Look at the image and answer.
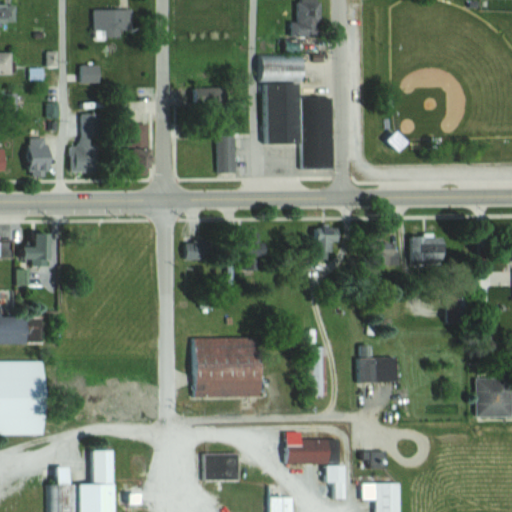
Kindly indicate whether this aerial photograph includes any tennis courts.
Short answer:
No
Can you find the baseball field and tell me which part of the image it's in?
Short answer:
top right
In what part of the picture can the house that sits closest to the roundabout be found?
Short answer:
bottom right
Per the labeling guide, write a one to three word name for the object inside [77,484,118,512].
building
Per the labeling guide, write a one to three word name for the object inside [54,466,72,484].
house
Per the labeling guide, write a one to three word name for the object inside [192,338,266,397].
barn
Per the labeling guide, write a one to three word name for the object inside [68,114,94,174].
house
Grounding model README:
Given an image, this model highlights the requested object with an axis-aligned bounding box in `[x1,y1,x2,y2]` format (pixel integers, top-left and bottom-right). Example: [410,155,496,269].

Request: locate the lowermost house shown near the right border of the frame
[475,377,512,422]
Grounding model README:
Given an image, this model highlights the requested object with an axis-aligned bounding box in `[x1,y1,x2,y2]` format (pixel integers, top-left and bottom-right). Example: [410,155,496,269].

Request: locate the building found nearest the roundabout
[360,450,388,470]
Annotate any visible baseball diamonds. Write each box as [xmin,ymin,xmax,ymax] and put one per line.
[388,0,512,140]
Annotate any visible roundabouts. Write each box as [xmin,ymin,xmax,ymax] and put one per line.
[384,426,431,468]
